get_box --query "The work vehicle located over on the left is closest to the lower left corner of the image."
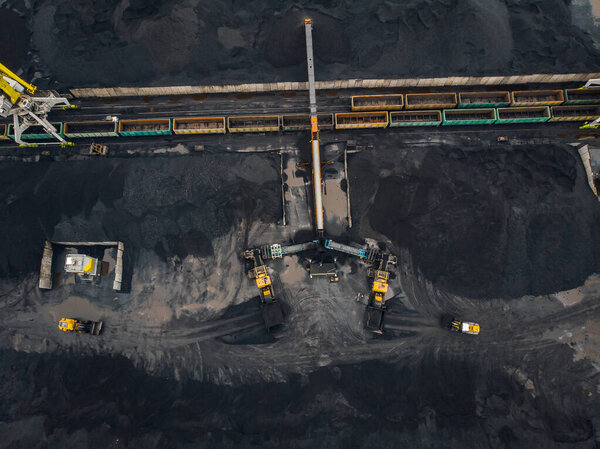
[56,318,105,335]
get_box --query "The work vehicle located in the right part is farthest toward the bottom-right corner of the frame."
[442,315,481,335]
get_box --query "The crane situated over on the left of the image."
[0,60,80,145]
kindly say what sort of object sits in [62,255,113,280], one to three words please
work vehicle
